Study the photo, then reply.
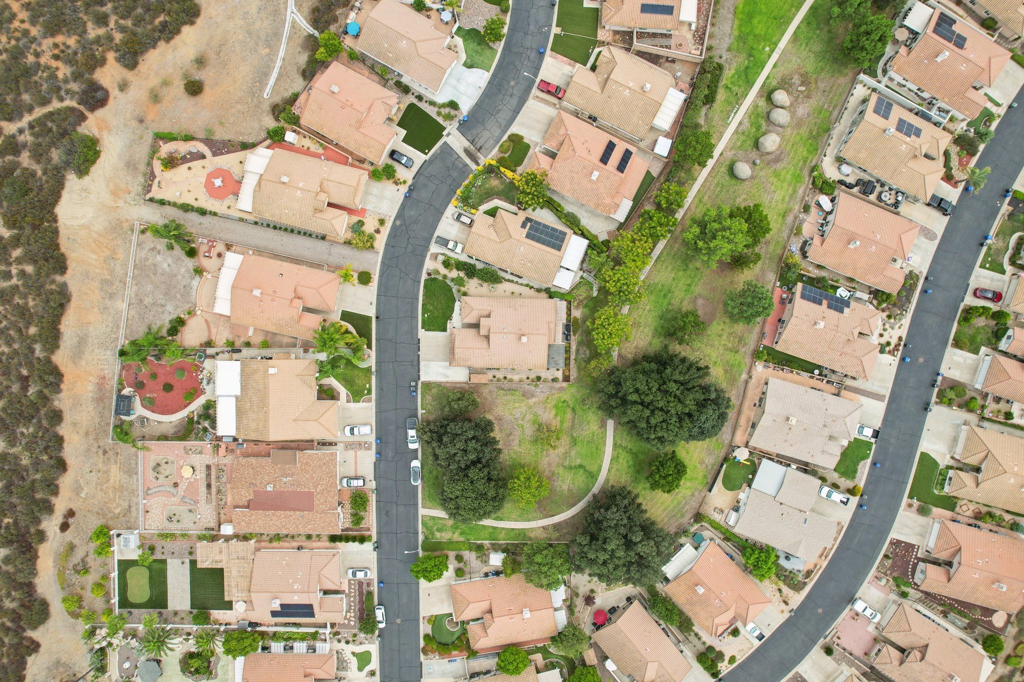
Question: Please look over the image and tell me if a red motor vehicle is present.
Yes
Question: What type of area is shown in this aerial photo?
residential area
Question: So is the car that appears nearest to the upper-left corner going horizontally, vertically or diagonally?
diagonally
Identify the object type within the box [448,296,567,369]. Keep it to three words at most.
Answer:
house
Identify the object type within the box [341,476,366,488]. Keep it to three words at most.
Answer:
vehicle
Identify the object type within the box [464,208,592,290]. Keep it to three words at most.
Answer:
house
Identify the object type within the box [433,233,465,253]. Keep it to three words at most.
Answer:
vehicle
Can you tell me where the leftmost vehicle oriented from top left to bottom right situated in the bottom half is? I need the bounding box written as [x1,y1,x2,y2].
[744,622,768,644]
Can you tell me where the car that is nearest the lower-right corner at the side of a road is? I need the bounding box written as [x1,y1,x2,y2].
[850,597,884,624]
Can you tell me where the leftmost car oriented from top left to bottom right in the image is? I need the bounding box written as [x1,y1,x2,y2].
[389,149,414,169]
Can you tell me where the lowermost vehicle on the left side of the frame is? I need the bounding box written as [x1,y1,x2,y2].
[374,605,386,628]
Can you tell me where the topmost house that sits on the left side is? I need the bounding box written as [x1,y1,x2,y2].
[357,0,458,97]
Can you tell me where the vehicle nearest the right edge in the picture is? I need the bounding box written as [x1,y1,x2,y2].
[972,288,1003,302]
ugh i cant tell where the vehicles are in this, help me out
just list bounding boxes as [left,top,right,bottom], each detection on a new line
[344,424,372,437]
[972,288,1003,302]
[406,417,417,449]
[347,567,371,580]
[536,78,565,100]
[452,211,475,227]
[850,597,884,624]
[818,485,852,507]
[744,622,768,644]
[389,149,414,169]
[409,459,421,485]
[433,233,465,253]
[856,424,883,441]
[374,605,386,628]
[928,193,958,215]
[341,476,366,488]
